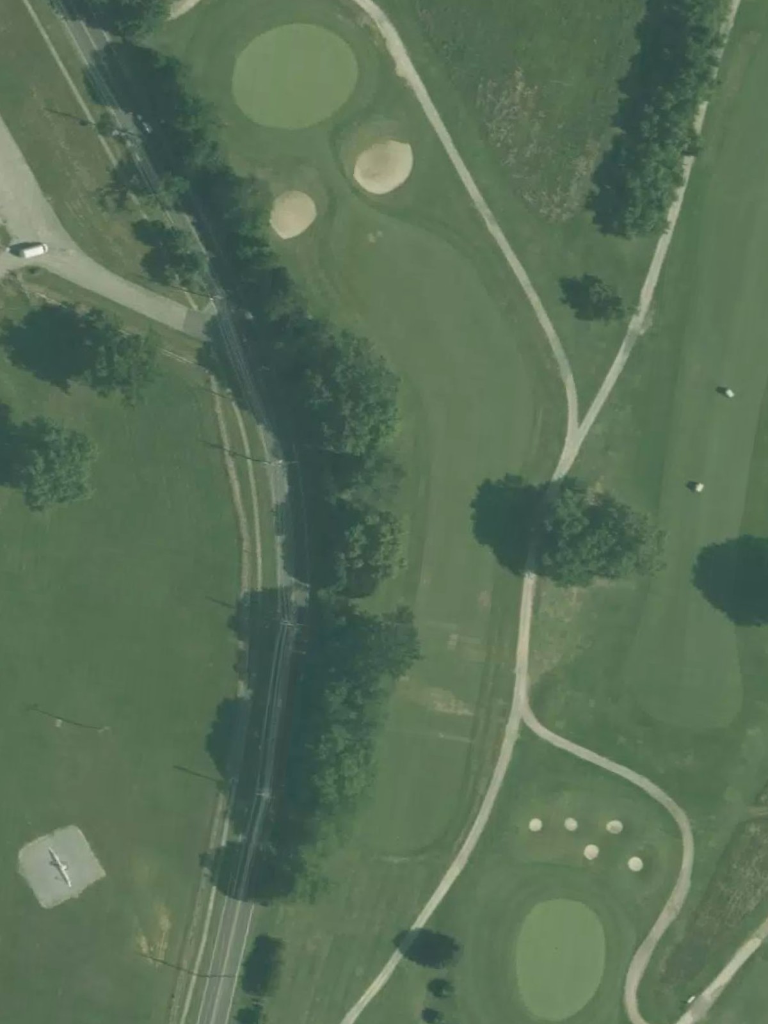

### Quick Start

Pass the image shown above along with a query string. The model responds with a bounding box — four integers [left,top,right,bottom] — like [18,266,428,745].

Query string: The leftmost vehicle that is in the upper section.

[19,241,49,258]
